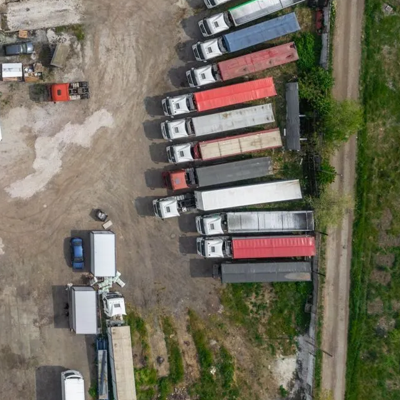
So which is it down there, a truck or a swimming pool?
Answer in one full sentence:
It is a truck that can be seen here.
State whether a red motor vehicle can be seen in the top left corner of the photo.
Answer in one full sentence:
Yes, a red motor vehicle can be seen in the top left corner of the photo.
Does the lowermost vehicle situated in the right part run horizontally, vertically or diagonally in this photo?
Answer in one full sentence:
From this overhead view, the lowermost vehicle situated in the right part appears to run horizontally.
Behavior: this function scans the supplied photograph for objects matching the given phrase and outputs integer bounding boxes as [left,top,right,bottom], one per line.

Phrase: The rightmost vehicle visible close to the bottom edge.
[103,293,137,400]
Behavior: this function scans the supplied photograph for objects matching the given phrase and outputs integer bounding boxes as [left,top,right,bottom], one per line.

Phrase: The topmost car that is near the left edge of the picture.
[2,40,34,57]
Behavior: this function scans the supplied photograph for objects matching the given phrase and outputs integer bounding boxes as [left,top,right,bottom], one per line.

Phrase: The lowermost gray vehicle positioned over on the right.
[215,258,313,283]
